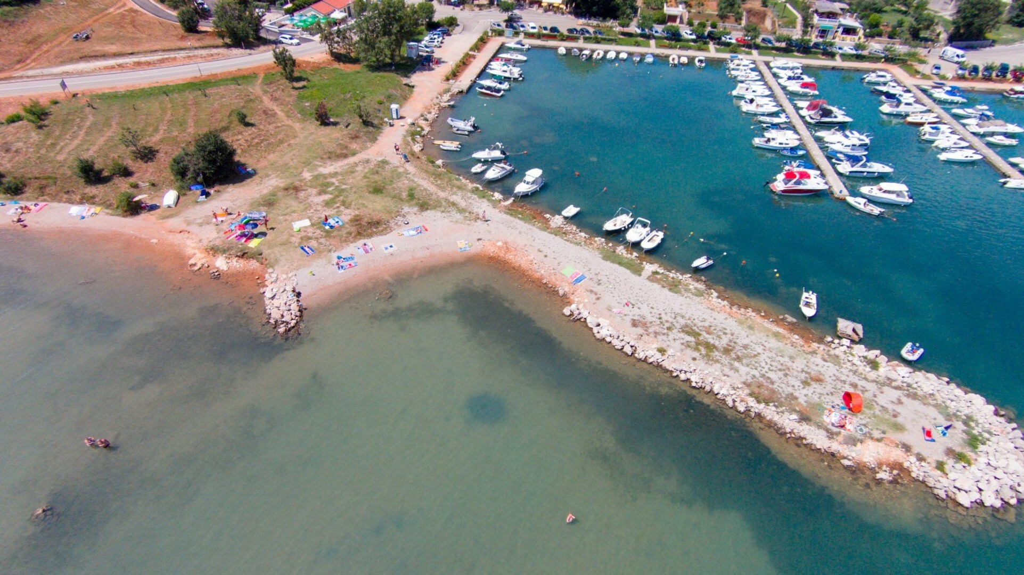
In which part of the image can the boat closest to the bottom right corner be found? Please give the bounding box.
[901,342,926,360]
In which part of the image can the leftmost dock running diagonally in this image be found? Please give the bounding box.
[757,62,849,203]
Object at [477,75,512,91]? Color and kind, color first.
white boat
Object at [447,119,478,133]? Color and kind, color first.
white boat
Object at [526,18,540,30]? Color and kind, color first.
white vehicle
